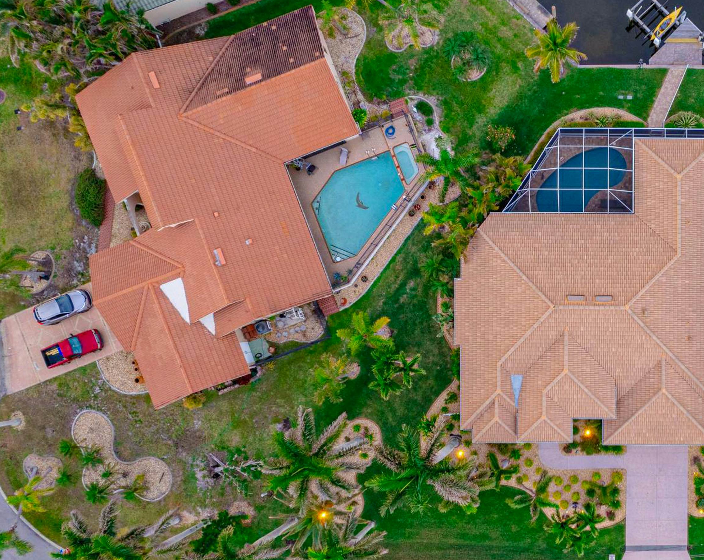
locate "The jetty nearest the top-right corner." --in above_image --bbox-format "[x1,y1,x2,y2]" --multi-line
[649,18,703,64]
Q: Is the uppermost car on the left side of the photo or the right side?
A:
left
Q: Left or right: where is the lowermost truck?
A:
left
